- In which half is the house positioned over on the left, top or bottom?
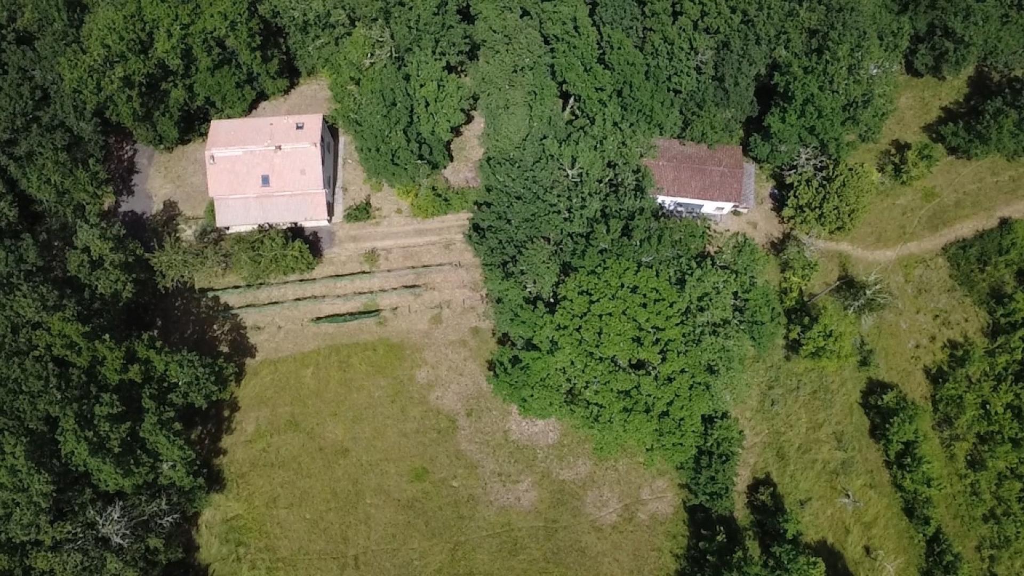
top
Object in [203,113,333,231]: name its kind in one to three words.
house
